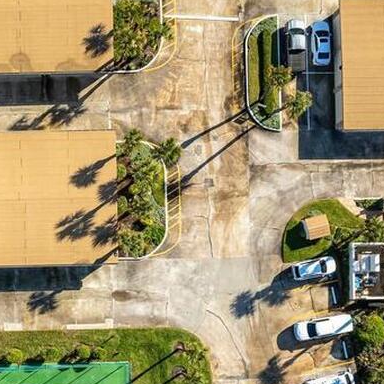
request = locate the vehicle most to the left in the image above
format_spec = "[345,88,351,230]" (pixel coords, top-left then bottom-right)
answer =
[284,22,308,73]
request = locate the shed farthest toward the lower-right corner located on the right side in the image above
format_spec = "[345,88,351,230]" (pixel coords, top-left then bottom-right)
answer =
[297,212,332,239]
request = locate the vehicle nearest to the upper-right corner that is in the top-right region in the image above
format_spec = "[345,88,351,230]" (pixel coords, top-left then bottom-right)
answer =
[310,23,332,67]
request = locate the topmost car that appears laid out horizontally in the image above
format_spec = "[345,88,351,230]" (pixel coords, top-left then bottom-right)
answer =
[292,257,336,281]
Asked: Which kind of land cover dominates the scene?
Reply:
paved ground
